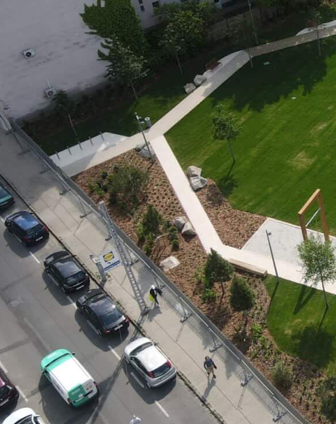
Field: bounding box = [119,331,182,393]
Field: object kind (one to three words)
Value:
car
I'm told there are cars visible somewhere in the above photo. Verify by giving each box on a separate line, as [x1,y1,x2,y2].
[72,282,134,343]
[0,174,19,212]
[1,204,53,251]
[0,401,46,424]
[0,360,23,414]
[37,241,96,298]
[119,331,182,393]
